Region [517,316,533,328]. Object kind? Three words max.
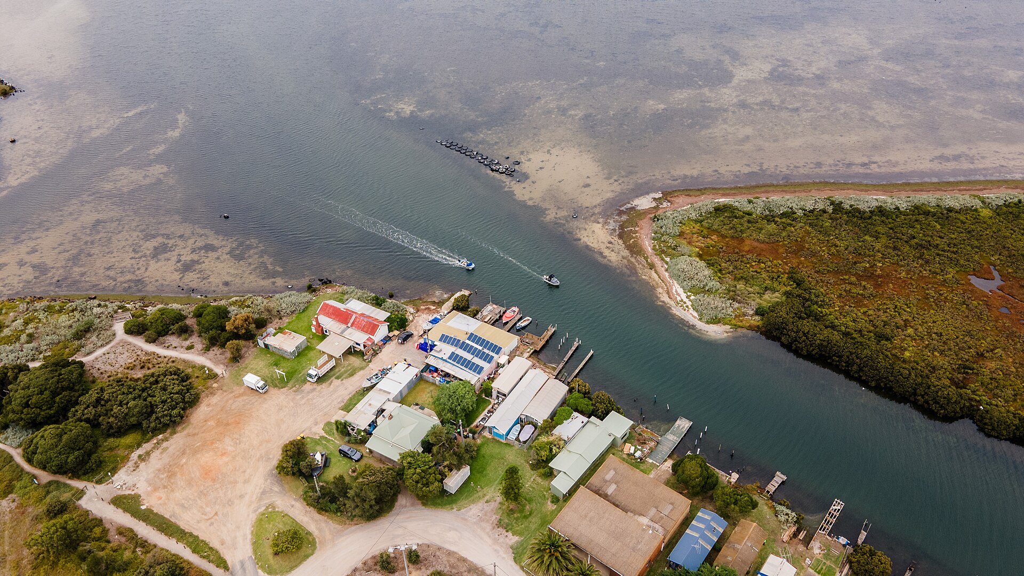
boat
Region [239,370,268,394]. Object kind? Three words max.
truck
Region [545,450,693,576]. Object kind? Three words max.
building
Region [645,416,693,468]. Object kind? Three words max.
pier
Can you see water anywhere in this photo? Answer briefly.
Yes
